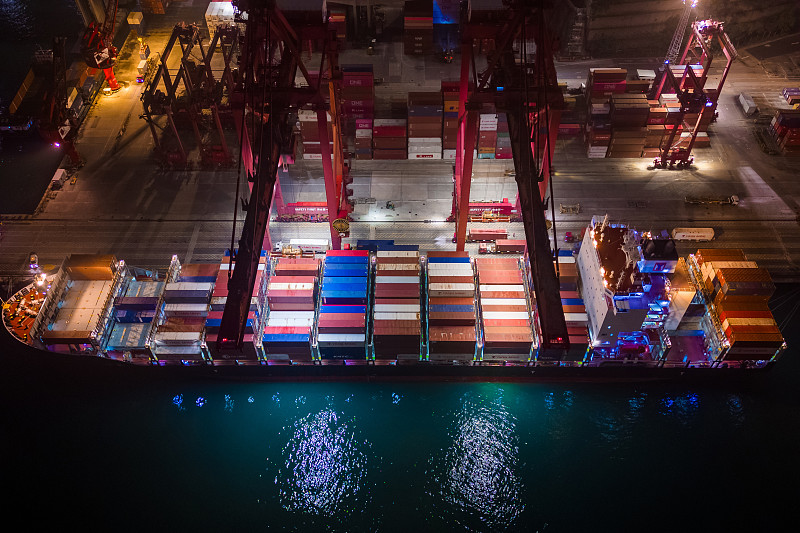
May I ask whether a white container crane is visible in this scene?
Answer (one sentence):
No, there isn't any white container crane down there.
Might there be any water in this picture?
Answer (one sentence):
Yes, there's water in this view.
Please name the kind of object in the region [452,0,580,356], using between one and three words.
container crane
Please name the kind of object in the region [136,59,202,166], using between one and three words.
container crane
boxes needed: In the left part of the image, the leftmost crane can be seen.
[48,32,102,170]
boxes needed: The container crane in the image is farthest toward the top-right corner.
[680,18,741,110]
